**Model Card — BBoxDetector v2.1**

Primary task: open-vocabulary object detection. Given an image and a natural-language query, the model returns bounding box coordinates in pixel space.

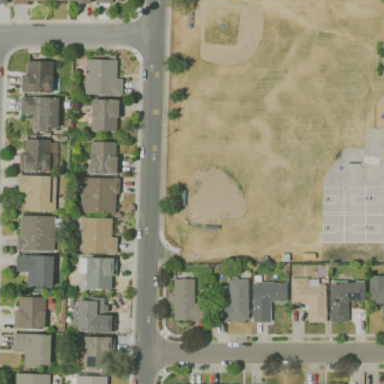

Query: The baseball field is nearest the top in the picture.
[200,0,263,64]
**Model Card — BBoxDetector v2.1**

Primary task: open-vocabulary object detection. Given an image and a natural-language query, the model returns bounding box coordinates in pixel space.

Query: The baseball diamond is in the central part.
[184,167,246,224]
